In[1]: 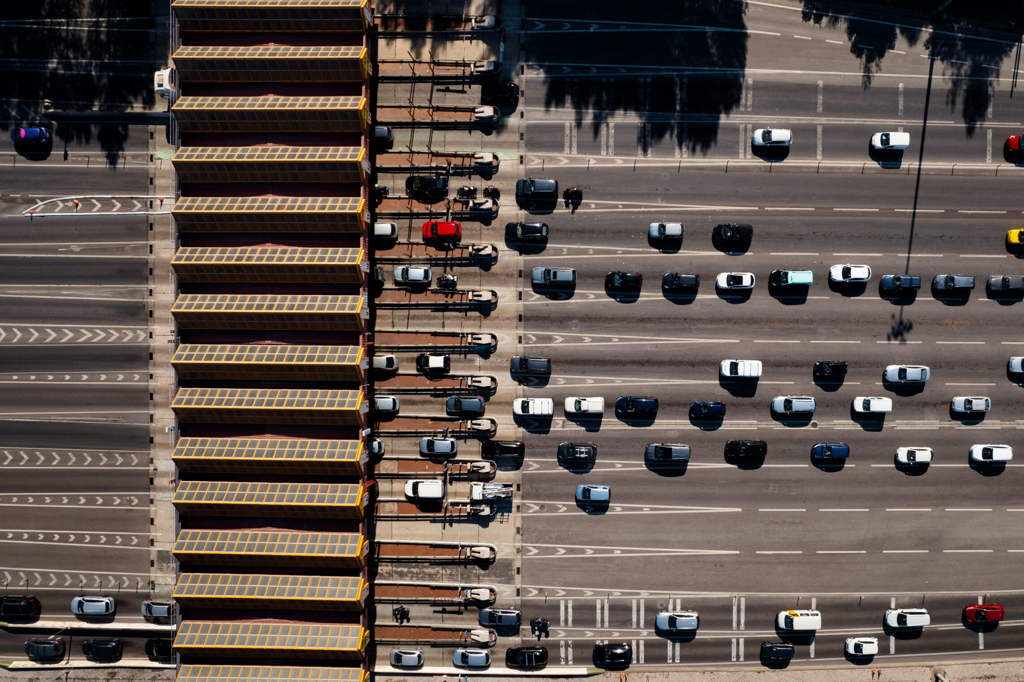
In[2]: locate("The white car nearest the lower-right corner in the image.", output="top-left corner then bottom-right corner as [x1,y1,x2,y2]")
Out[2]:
[884,607,930,630]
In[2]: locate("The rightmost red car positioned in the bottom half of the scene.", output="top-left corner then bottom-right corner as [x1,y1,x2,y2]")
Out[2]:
[961,603,1004,624]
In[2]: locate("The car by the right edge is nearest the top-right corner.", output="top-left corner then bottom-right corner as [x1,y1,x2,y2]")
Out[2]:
[1001,133,1024,153]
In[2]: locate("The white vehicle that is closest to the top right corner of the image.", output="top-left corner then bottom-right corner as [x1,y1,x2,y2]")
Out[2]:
[870,129,913,151]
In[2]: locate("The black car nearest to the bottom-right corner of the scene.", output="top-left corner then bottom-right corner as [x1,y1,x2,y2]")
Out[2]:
[760,640,794,661]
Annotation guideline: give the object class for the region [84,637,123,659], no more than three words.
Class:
car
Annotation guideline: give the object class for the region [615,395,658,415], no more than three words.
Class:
car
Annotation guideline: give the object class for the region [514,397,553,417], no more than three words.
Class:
vehicle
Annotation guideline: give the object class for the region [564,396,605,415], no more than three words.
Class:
vehicle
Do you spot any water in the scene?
No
